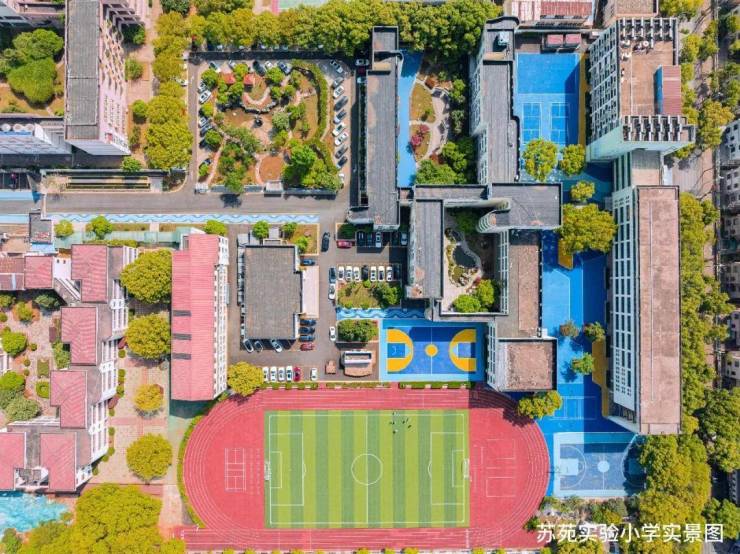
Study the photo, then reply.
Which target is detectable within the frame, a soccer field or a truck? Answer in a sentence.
This aerial view contains a soccer field.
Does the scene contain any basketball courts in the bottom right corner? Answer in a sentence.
Yes, the scene does show a basketball court in the bottom right corner.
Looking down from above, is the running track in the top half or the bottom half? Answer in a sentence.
The running track is in the bottom half of the image.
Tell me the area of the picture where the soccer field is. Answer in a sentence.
The soccer field sits in the bottom section of the image.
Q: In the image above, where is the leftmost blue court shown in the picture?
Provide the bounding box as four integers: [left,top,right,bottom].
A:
[379,319,488,382]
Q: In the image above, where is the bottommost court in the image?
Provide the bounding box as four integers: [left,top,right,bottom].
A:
[553,433,652,497]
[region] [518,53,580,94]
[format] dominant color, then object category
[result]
blue sports court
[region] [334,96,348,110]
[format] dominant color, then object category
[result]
gray vehicle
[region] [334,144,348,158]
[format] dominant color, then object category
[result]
gray vehicle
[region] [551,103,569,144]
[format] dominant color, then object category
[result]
blue sports court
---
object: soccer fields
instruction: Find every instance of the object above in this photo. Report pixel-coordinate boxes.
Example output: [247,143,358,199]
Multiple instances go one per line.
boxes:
[265,410,469,527]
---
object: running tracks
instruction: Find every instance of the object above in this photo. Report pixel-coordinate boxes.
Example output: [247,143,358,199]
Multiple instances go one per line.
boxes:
[166,387,559,551]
